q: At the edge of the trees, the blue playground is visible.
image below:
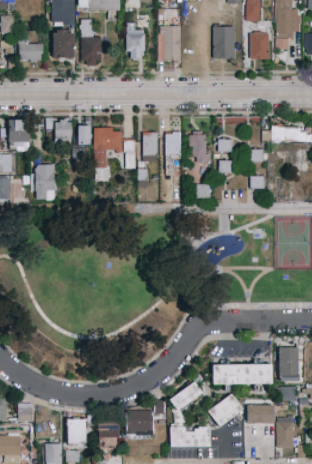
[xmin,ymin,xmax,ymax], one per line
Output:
[201,235,244,266]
